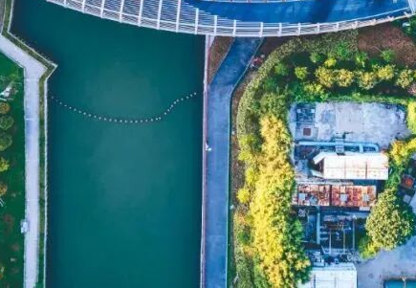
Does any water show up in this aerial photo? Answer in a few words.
Yes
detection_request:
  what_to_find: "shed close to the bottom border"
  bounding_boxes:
[302,259,357,288]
